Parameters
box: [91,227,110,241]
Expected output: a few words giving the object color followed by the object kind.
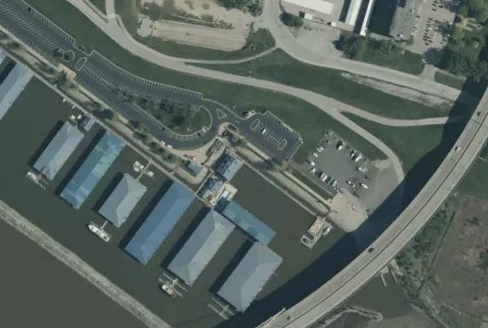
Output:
white boat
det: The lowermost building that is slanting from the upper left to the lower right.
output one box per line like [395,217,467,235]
[222,199,277,245]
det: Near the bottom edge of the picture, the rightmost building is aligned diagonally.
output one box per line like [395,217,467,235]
[217,241,284,313]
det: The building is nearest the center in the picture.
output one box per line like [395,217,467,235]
[216,153,243,182]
